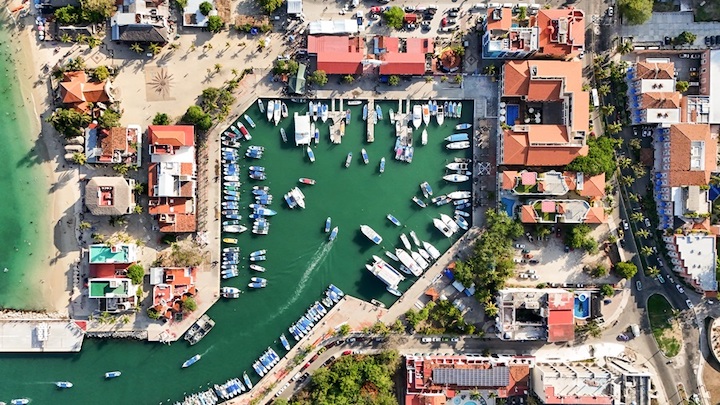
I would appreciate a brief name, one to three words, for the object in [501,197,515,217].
swimming pool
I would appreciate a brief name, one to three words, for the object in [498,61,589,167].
building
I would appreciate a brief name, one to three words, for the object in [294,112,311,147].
boat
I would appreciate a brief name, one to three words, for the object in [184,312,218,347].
boat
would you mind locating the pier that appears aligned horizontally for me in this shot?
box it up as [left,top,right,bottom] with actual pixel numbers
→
[0,318,87,353]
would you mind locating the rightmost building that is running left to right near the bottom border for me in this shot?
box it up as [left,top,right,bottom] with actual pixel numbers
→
[531,354,657,405]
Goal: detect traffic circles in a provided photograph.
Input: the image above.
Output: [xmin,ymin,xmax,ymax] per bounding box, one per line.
[648,292,683,359]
